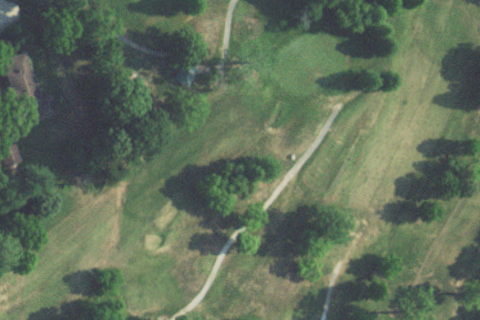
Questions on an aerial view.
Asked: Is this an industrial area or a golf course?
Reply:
golf course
